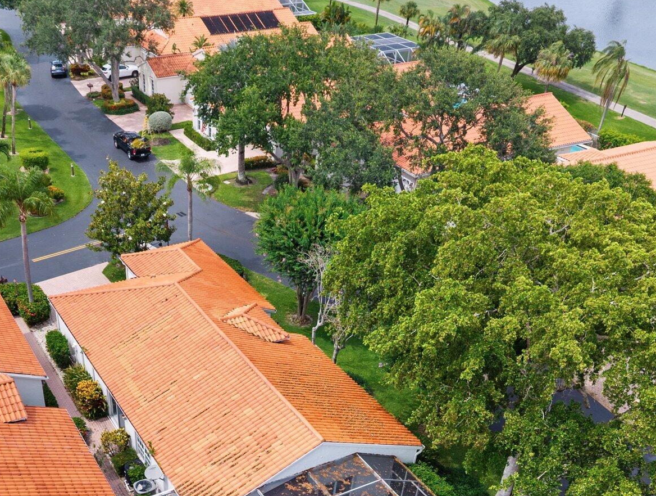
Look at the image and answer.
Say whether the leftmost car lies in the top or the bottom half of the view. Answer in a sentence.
Seen from above, the leftmost car lies in the top half of the view.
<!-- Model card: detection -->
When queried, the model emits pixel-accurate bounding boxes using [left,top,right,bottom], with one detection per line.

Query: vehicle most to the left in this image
[47,56,70,76]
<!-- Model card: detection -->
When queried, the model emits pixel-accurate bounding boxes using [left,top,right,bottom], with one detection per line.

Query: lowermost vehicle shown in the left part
[111,124,154,154]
